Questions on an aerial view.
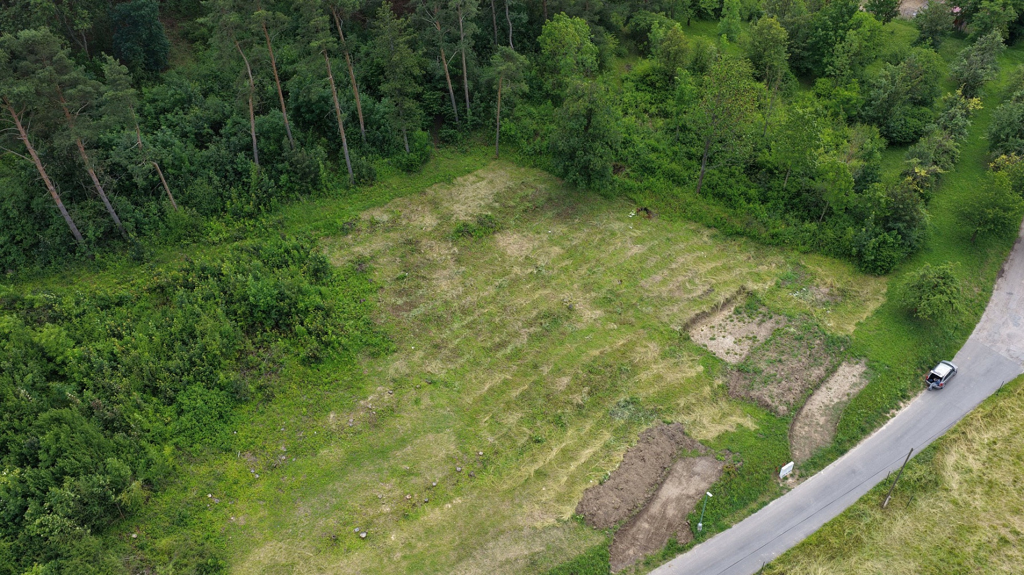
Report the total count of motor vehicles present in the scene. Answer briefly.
one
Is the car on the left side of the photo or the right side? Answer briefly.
right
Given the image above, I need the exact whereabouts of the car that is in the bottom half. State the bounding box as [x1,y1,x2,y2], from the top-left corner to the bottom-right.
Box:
[926,363,958,391]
